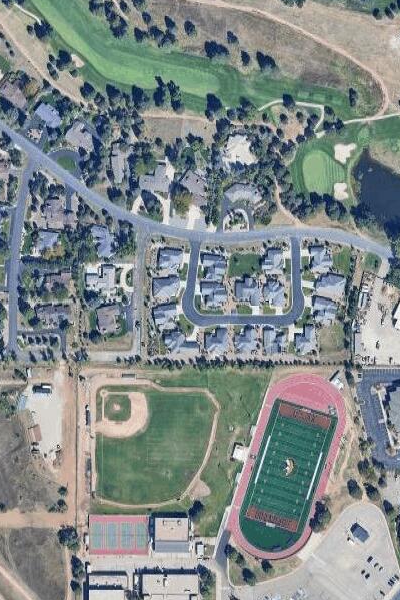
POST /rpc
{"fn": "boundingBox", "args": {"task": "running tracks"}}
[230,373,346,561]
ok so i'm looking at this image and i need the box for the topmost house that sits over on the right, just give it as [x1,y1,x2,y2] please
[222,132,258,164]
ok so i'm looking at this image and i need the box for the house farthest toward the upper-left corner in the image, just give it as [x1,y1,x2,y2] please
[0,80,30,111]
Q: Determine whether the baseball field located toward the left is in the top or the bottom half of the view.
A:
bottom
